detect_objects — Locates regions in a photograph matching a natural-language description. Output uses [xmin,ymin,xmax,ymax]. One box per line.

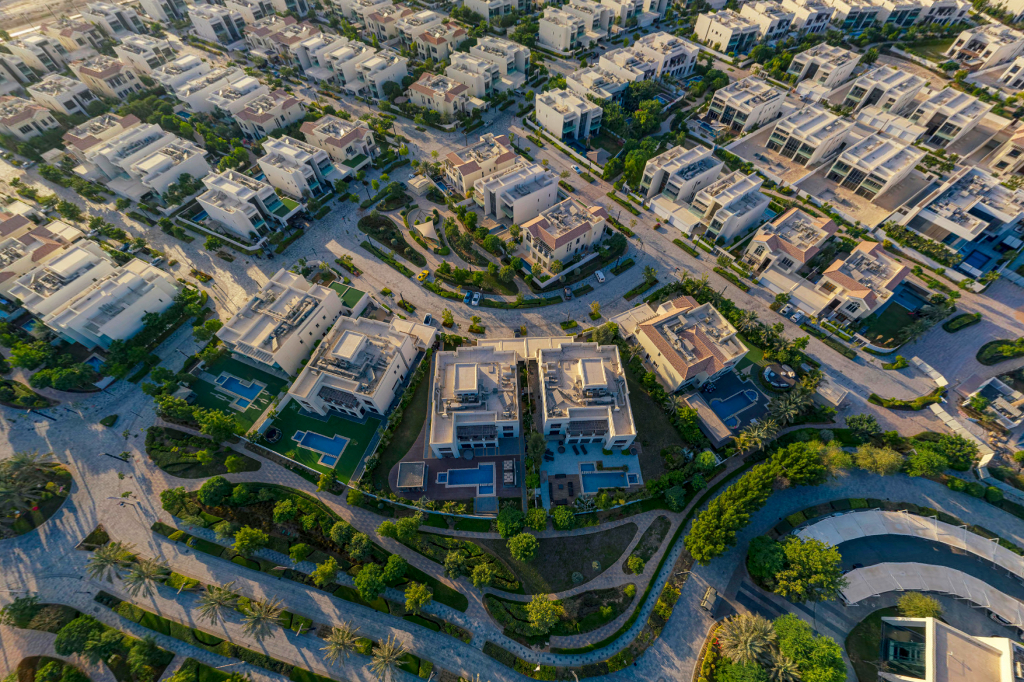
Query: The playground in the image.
[410,202,443,247]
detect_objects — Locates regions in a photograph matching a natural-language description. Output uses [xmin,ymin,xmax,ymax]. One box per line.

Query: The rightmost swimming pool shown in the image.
[966,250,994,270]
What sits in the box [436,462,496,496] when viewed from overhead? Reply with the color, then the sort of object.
blue swimming pool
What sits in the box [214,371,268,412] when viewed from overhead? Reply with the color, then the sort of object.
blue swimming pool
